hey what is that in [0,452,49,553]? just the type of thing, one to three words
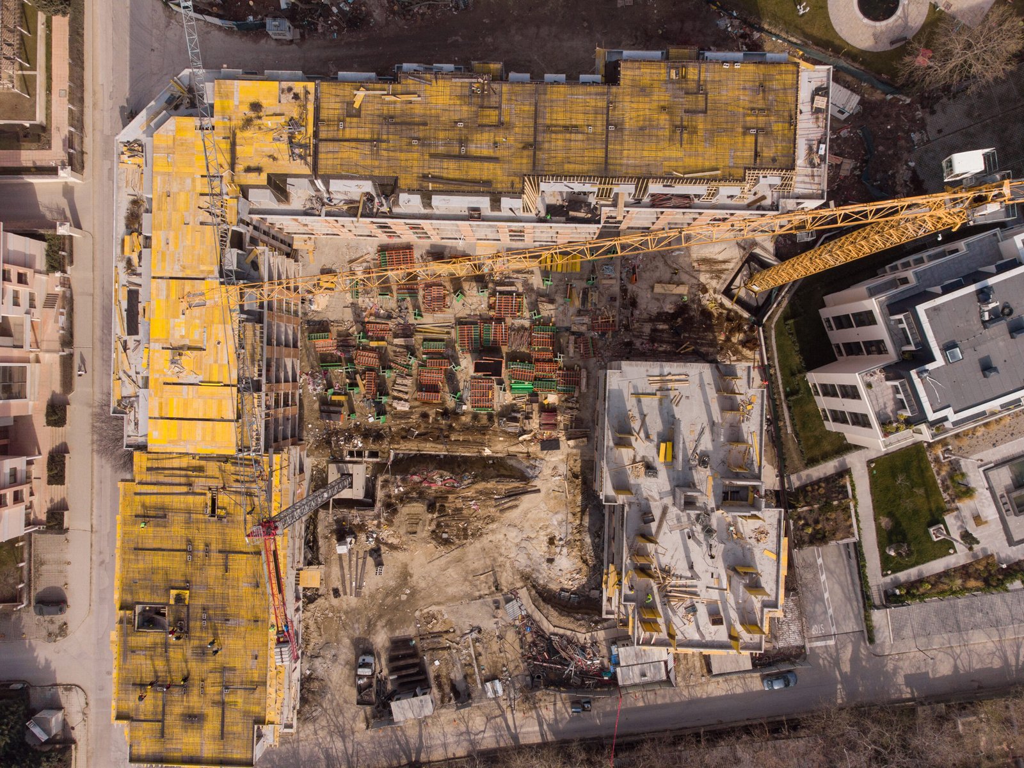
house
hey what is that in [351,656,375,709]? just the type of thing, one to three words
truck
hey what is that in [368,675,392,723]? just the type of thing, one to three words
work vehicle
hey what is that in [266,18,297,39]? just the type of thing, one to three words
building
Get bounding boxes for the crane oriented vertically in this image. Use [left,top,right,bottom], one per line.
[176,0,370,676]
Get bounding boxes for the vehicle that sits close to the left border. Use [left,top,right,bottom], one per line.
[32,601,63,617]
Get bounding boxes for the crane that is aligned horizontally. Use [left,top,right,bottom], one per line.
[174,146,1024,320]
